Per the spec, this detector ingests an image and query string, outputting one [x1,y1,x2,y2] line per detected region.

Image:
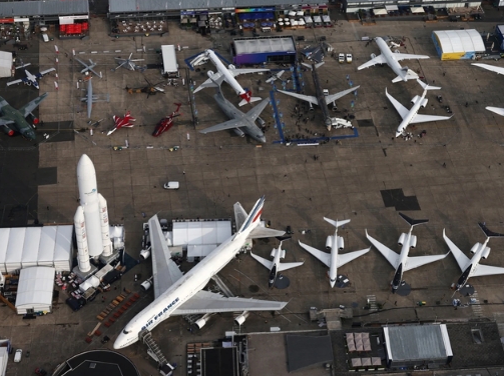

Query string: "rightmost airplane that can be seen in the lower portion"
[442,222,504,291]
